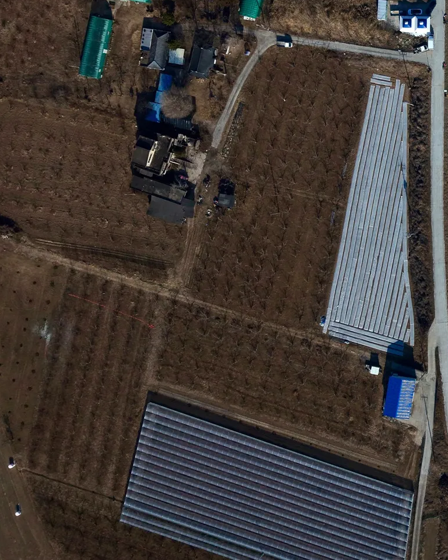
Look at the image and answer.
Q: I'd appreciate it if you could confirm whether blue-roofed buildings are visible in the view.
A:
Yes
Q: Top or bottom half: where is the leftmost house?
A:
top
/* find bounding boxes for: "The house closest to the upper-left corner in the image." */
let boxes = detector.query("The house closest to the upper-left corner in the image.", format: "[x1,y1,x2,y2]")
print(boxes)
[80,16,115,79]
